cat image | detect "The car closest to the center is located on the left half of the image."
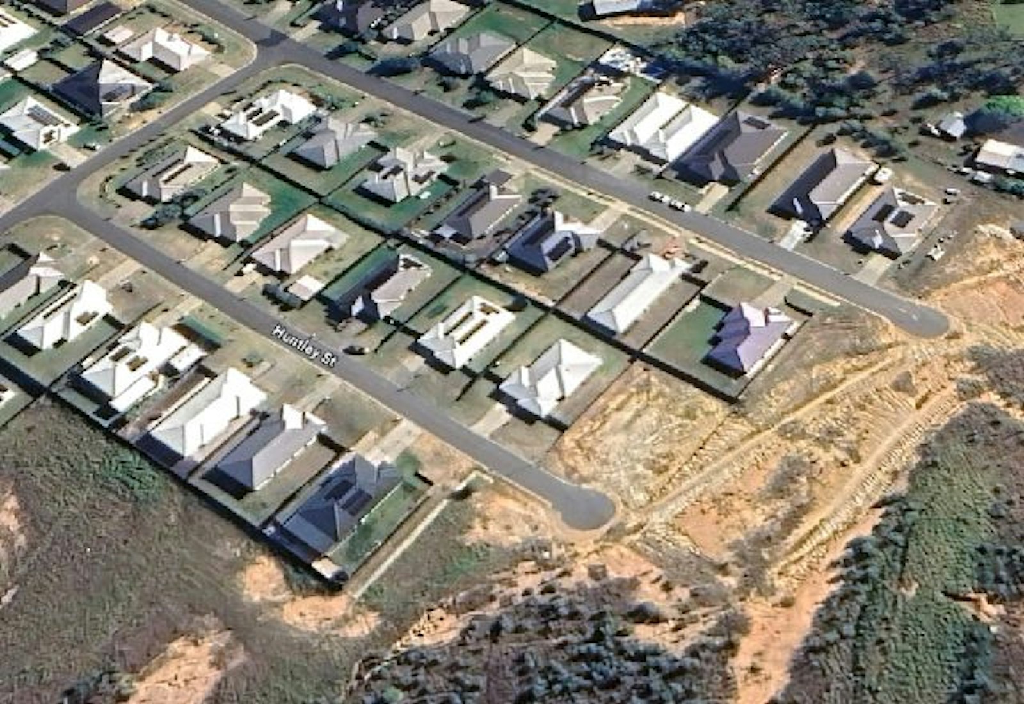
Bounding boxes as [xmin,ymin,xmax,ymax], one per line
[346,341,367,355]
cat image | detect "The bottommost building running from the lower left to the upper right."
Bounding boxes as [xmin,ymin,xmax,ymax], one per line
[283,452,403,551]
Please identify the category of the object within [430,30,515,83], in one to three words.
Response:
house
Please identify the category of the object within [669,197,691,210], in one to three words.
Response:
vehicle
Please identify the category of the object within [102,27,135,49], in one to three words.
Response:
shed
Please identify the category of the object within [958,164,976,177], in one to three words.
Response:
vehicle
